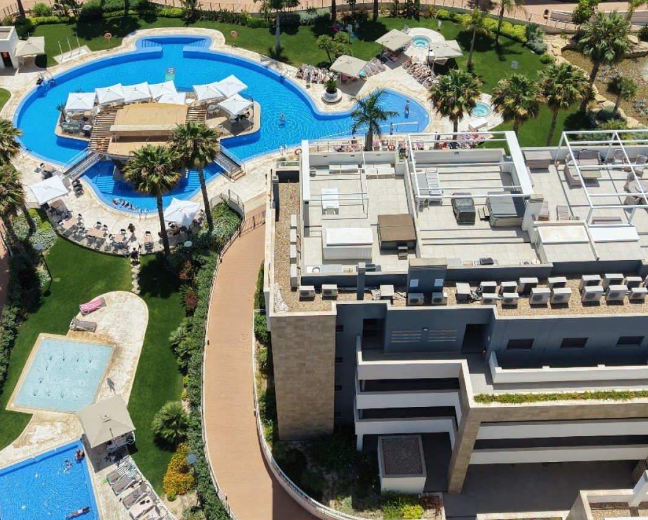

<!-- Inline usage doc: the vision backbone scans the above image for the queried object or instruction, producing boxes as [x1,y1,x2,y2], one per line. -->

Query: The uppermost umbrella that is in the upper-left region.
[15,44,49,73]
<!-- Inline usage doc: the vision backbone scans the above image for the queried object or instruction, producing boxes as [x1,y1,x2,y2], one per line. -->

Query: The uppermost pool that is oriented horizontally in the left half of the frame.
[13,36,430,214]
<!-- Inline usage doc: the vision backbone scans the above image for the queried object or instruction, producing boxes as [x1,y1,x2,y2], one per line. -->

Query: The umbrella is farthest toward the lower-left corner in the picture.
[80,397,137,455]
